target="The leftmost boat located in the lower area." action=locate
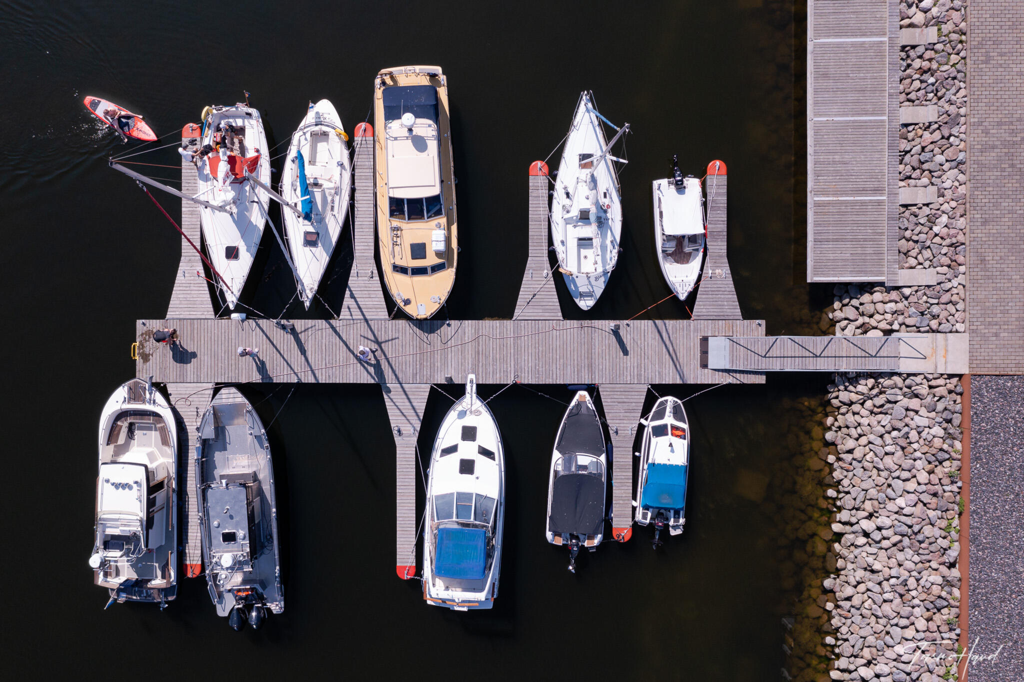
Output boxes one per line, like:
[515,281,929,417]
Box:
[88,376,184,611]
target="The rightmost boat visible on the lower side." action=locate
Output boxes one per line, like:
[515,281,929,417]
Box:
[631,395,691,554]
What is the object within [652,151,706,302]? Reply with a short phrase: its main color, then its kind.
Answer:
white boat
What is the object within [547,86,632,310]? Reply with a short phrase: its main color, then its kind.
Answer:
white boat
